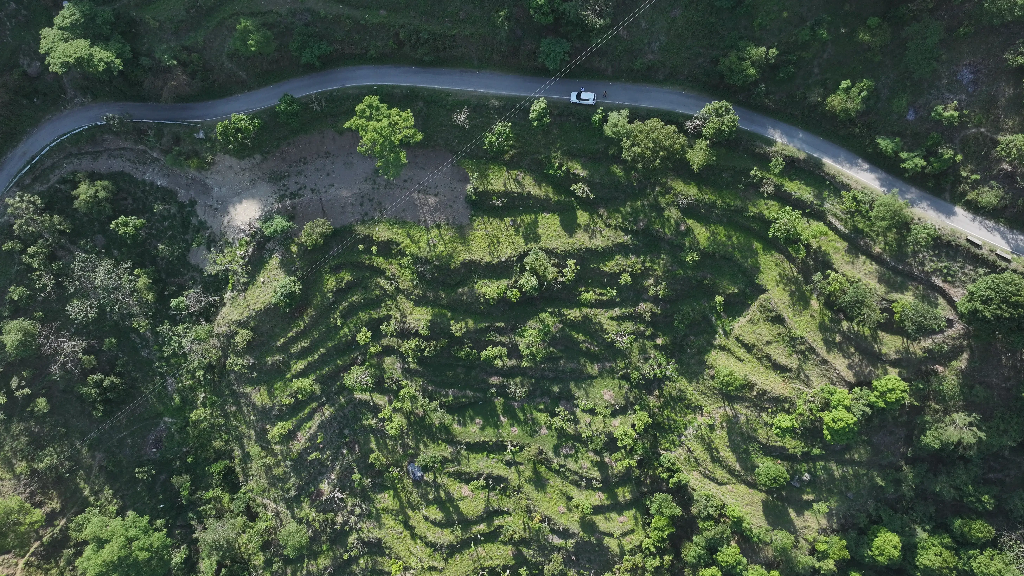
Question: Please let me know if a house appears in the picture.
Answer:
No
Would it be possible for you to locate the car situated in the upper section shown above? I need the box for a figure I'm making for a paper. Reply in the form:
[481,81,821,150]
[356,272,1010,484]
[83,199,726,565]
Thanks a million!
[569,91,596,107]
